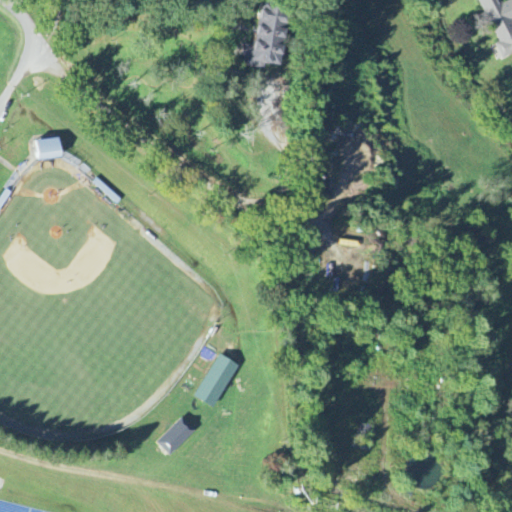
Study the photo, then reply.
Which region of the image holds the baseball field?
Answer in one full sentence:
The baseball field is in the left part of the image.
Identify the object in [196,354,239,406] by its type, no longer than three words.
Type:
shed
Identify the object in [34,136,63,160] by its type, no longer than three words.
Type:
building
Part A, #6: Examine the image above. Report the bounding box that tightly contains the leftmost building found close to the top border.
[247,4,288,68]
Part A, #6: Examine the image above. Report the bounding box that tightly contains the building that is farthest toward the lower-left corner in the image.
[155,418,194,456]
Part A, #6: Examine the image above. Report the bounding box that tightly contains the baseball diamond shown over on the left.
[0,160,220,440]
